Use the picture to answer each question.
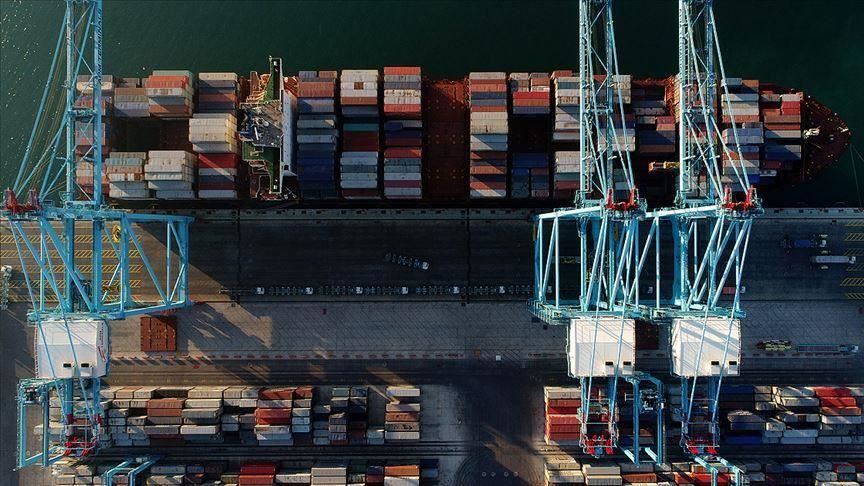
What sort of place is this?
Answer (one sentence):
This looks like a port.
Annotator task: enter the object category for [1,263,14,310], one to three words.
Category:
vehicle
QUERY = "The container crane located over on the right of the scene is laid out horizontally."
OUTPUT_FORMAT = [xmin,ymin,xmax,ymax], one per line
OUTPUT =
[690,453,757,486]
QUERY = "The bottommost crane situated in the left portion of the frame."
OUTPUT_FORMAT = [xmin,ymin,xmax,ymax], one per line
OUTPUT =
[100,453,167,486]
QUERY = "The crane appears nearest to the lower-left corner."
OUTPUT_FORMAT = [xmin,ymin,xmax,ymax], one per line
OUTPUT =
[14,375,89,470]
